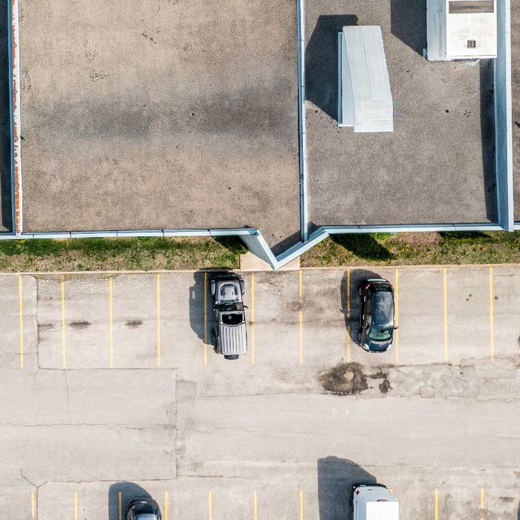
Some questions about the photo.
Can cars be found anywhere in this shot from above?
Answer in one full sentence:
Yes, there's a car down there.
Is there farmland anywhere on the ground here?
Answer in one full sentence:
No, there's no farmland in this view.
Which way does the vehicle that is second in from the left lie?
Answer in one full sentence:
Seen from above, the vehicle that is second in from the left lies up and down.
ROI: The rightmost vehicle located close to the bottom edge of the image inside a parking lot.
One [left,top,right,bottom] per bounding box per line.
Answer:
[350,480,404,520]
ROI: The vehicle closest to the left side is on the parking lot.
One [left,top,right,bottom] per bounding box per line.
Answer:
[123,492,158,520]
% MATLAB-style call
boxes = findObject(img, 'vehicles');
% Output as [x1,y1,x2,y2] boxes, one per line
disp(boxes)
[123,492,158,520]
[355,277,398,352]
[350,480,404,520]
[206,273,249,361]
